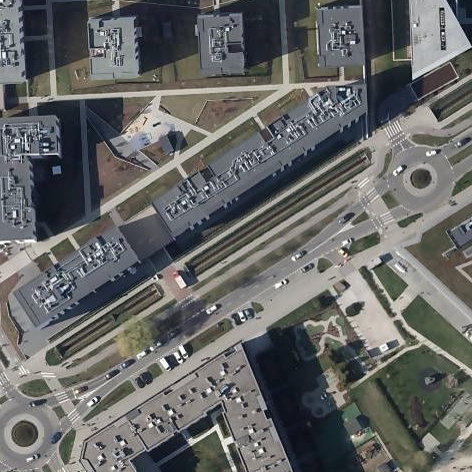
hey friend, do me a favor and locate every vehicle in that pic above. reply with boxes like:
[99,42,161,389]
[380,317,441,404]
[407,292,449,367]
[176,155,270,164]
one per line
[342,213,353,223]
[276,279,288,288]
[76,386,87,393]
[237,311,245,322]
[88,397,98,406]
[341,238,351,246]
[141,373,151,385]
[232,315,239,325]
[427,149,437,155]
[243,307,253,319]
[135,377,144,389]
[52,433,61,443]
[138,350,148,358]
[28,454,38,461]
[160,358,170,371]
[107,370,119,379]
[458,136,470,145]
[150,342,160,350]
[293,251,305,260]
[206,305,218,314]
[122,360,134,369]
[300,262,312,272]
[178,344,188,357]
[340,248,350,258]
[174,271,186,286]
[394,164,405,175]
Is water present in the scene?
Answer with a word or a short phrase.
No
